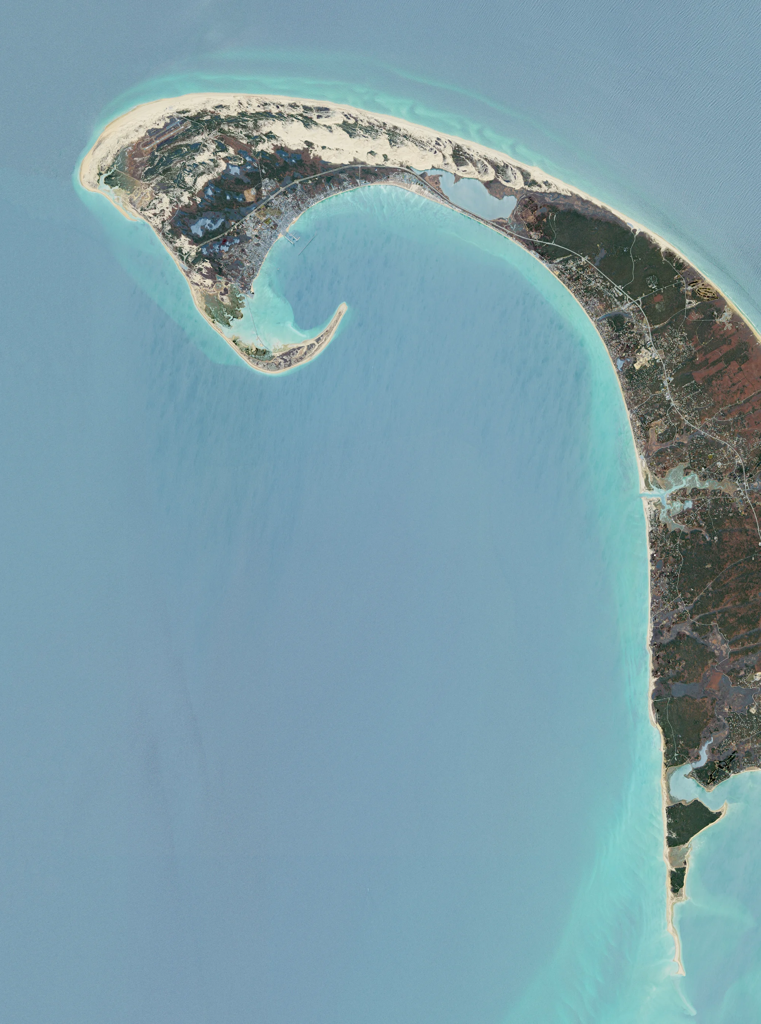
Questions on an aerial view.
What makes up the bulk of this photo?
water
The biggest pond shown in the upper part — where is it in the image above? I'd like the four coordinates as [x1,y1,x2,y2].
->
[411,167,517,220]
